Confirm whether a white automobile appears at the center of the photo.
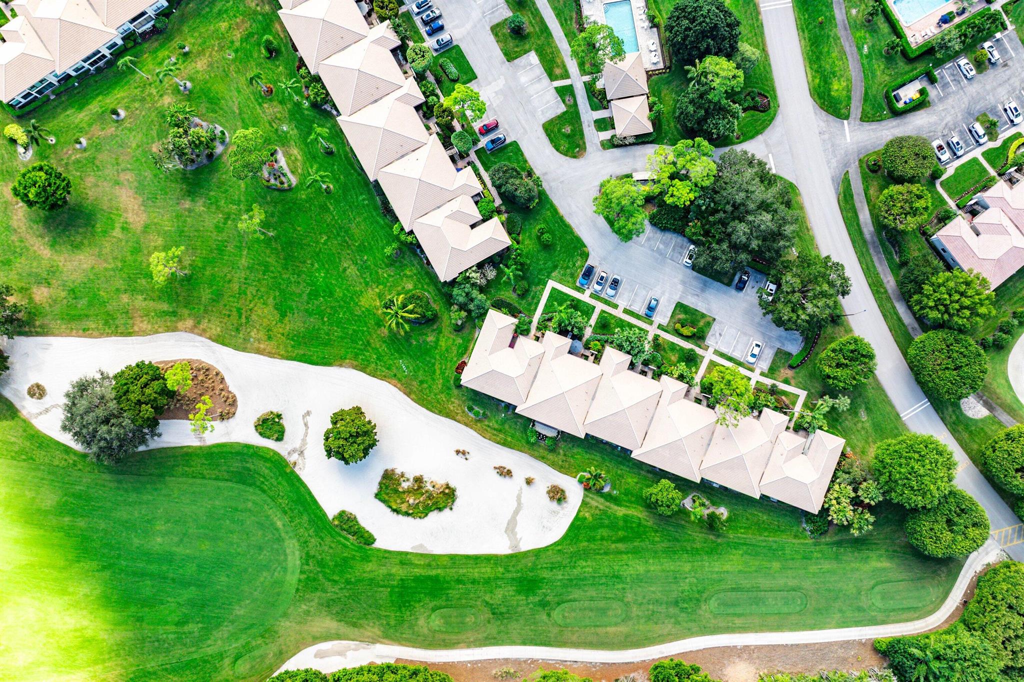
Yes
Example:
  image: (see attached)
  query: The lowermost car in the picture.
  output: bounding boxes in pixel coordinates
[745,339,763,365]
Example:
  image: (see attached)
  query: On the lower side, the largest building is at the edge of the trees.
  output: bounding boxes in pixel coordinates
[460,308,846,514]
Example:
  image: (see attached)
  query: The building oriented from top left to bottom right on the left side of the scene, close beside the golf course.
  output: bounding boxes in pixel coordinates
[277,0,510,281]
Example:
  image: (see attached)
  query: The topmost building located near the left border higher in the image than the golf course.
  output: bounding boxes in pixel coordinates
[0,0,202,106]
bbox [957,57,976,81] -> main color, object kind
white car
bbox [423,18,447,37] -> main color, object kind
blue car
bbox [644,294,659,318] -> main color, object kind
blue car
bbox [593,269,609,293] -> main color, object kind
white car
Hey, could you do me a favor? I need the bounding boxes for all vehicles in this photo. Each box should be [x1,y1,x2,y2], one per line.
[644,294,659,318]
[681,243,697,268]
[734,266,752,293]
[429,32,455,52]
[417,6,443,25]
[946,134,965,158]
[605,273,622,299]
[745,339,763,365]
[483,133,509,152]
[931,138,950,164]
[981,40,1000,65]
[957,57,976,81]
[476,117,501,136]
[423,18,447,37]
[409,0,435,16]
[593,269,609,293]
[578,262,595,288]
[968,120,987,146]
[1003,100,1023,126]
